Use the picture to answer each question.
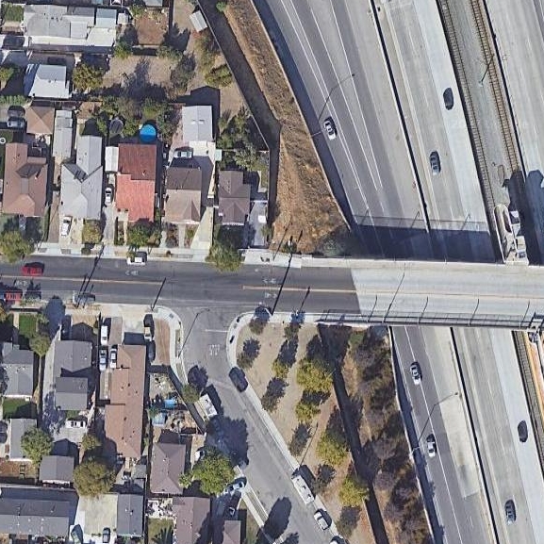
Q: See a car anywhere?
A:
Yes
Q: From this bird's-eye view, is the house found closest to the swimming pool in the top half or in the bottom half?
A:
top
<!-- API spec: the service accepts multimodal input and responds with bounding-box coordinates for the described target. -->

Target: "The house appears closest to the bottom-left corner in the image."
[0,485,70,534]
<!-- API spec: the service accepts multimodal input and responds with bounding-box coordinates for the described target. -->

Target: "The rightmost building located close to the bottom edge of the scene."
[215,520,242,544]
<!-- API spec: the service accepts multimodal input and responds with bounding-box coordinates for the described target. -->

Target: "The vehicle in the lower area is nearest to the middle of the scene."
[230,366,247,389]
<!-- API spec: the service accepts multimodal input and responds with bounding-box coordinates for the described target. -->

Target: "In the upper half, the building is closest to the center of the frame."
[218,170,250,224]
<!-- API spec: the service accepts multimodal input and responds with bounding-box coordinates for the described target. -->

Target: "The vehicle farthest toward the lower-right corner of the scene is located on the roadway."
[504,499,516,522]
